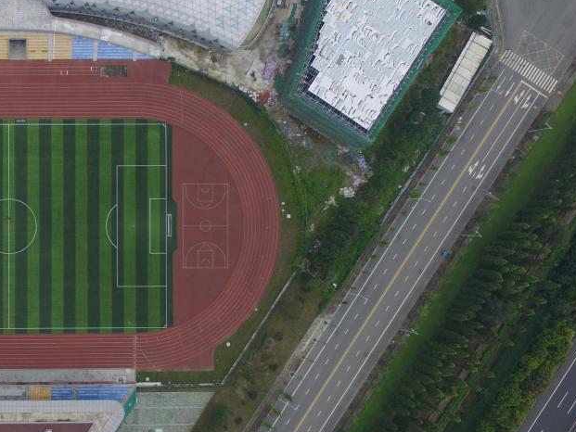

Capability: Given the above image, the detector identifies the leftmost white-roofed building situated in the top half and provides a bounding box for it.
[279,0,461,145]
